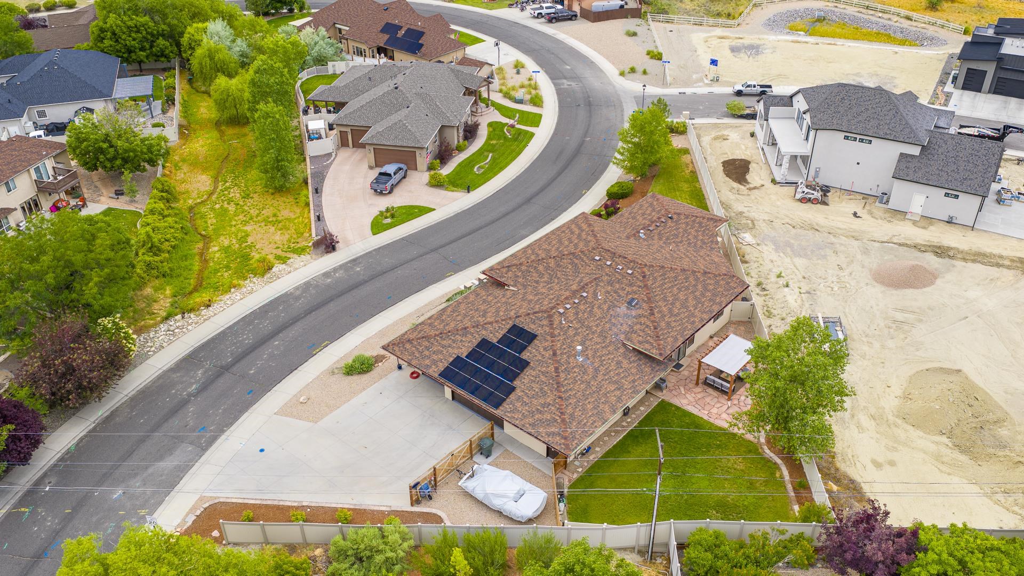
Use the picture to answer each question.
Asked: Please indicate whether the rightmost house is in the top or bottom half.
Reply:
top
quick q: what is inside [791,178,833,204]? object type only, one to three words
work vehicle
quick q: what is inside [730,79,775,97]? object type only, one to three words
vehicle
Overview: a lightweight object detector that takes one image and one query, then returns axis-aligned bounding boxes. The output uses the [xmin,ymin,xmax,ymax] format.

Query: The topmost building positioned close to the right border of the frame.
[955,3,1024,99]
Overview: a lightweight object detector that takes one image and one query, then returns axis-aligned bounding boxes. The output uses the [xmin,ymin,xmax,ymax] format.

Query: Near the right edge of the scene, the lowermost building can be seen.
[762,83,1005,224]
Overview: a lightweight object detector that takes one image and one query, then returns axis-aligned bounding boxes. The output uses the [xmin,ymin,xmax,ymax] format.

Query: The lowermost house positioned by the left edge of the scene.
[0,138,90,230]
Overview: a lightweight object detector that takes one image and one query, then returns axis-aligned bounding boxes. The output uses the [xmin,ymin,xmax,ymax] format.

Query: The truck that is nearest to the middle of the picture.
[368,160,410,190]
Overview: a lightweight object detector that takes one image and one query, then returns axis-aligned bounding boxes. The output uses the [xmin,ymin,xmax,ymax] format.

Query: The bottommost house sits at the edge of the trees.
[382,194,754,461]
